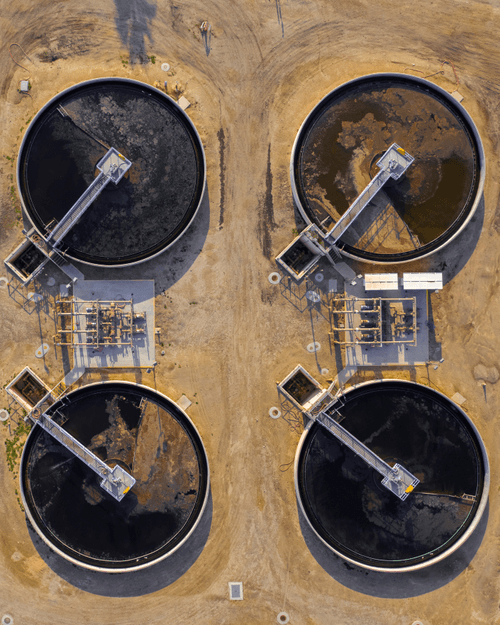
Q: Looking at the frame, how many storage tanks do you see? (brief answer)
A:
4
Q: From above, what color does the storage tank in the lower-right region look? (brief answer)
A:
black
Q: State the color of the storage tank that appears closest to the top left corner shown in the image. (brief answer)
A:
black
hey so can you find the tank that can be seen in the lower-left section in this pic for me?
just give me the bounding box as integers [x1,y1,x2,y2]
[20,381,212,574]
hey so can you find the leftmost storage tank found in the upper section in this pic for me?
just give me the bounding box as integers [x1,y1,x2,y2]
[16,76,209,269]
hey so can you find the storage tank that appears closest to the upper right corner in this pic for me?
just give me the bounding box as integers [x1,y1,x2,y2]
[292,72,485,265]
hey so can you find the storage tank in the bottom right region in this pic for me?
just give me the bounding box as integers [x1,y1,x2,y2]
[296,378,490,571]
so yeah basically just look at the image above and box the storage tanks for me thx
[16,76,209,269]
[296,378,490,571]
[20,381,212,574]
[292,72,485,265]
